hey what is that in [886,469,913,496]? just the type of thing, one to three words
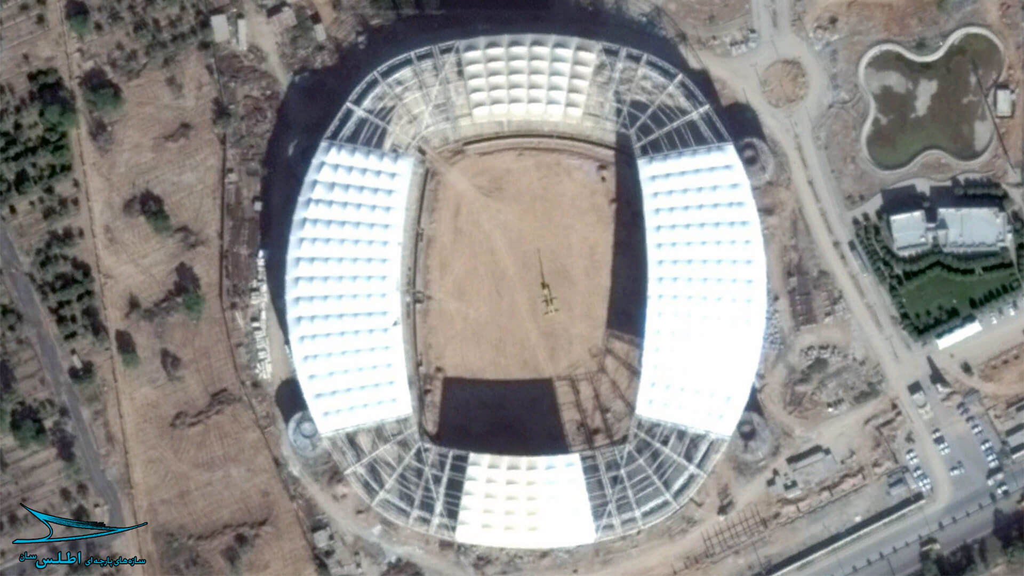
building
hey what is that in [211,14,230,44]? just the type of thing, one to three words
shed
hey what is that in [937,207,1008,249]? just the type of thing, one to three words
house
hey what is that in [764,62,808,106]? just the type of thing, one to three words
roundabout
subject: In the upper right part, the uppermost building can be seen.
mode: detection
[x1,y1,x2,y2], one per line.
[996,89,1012,117]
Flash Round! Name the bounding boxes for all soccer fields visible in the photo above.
[416,142,636,454]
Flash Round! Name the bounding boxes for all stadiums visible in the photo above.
[283,34,776,549]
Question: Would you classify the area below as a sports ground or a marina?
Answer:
sports ground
